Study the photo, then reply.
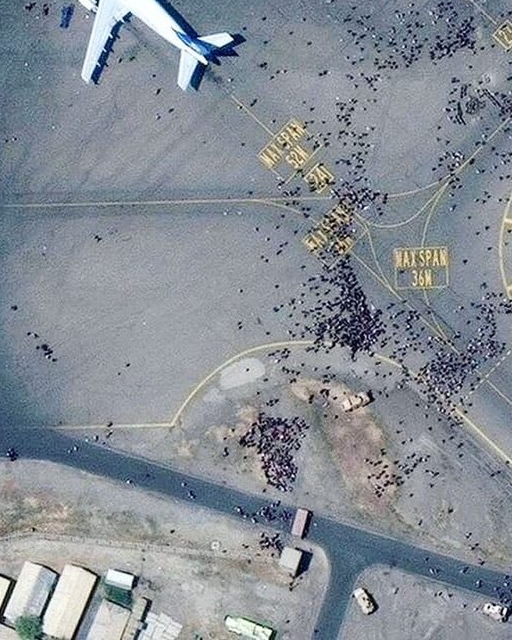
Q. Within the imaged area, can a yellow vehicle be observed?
No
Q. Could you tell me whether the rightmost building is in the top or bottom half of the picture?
bottom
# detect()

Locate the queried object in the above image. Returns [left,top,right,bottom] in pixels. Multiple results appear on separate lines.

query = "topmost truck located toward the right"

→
[340,391,372,412]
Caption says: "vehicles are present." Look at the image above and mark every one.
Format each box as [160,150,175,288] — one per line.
[355,587,374,615]
[225,615,273,640]
[483,604,509,620]
[340,391,372,412]
[292,508,308,538]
